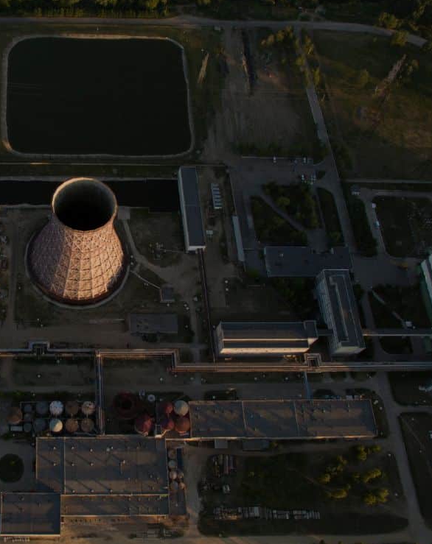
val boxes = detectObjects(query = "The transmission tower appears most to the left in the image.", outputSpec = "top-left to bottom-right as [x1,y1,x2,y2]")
[193,52,206,87]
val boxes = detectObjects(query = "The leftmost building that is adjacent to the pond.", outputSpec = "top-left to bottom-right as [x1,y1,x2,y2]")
[178,167,205,255]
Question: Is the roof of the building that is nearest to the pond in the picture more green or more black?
black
